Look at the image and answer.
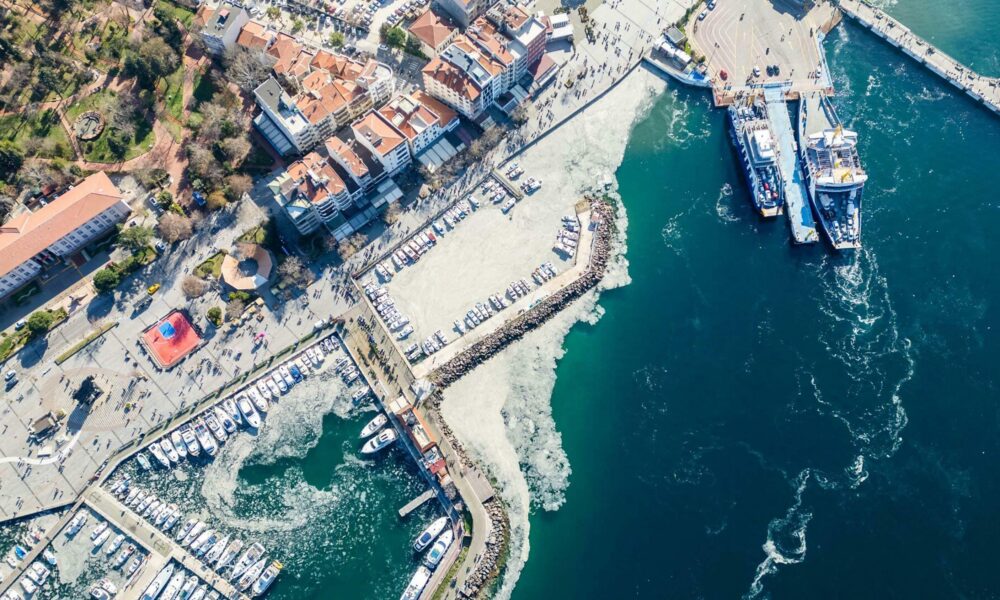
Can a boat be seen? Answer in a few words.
Yes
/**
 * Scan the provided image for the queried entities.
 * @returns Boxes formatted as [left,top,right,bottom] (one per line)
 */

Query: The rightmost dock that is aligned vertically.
[767,103,818,244]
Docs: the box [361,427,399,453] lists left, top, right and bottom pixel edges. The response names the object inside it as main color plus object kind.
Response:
white boat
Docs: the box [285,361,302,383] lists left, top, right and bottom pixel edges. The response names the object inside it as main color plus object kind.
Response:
blue boat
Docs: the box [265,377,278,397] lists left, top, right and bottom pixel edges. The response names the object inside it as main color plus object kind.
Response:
white boat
